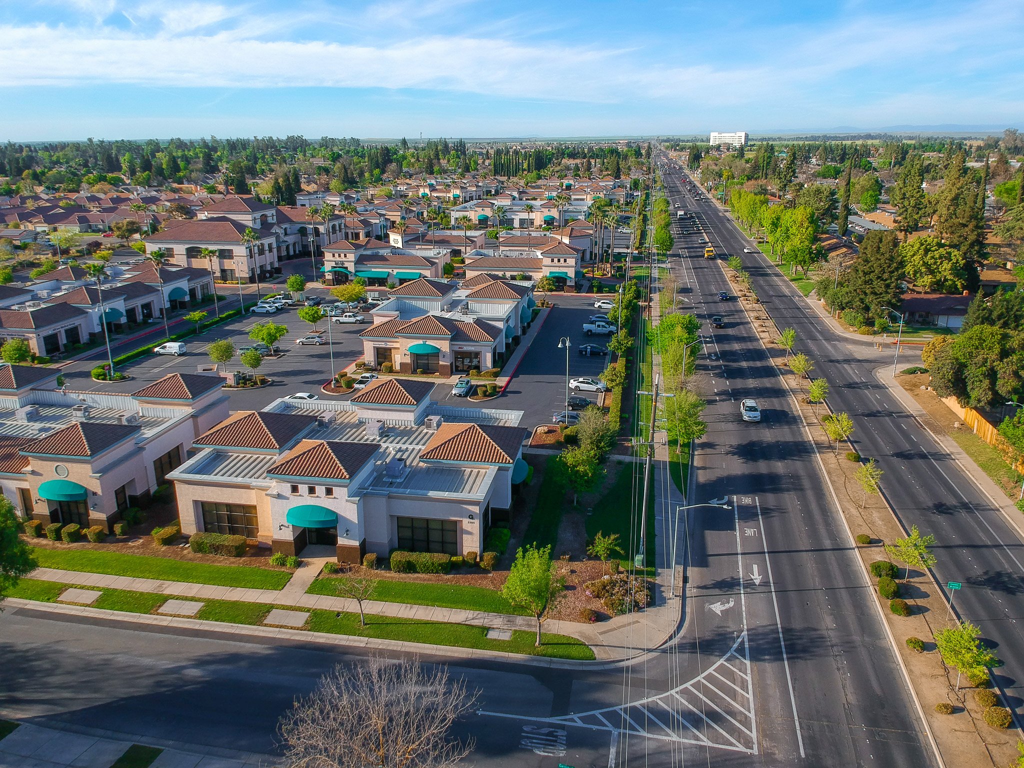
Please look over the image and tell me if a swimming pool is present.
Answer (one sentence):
No, the picture doesn't show any swimming pool.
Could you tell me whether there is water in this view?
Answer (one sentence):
No, water can't be seen anywhere here.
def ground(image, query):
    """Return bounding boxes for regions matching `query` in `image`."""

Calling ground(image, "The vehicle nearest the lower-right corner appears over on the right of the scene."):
[739,398,763,421]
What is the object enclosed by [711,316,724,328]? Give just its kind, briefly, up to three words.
vehicle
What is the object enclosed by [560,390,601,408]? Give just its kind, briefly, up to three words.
car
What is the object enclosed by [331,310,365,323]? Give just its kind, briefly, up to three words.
vehicle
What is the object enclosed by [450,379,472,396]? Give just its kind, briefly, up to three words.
car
